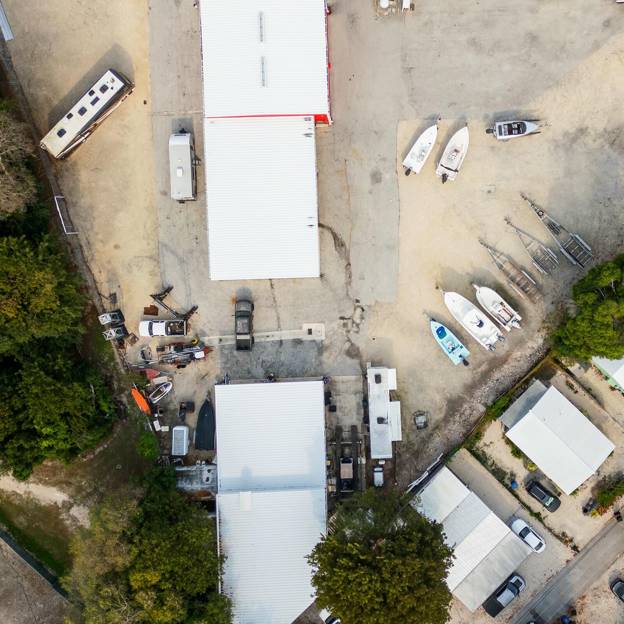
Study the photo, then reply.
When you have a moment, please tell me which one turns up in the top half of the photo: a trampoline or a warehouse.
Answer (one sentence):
The one visible in the top half of the photo is a warehouse.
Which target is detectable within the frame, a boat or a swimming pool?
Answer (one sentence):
Of the two, only a boat appears.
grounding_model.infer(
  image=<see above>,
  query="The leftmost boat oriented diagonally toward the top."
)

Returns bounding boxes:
[404,125,437,176]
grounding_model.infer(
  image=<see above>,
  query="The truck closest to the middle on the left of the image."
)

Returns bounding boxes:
[232,299,254,351]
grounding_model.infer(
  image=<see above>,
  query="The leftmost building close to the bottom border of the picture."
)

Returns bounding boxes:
[214,379,329,624]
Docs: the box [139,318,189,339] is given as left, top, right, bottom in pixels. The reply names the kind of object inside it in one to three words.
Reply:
truck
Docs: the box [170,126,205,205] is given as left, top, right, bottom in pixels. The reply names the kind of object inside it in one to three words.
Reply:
vehicle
